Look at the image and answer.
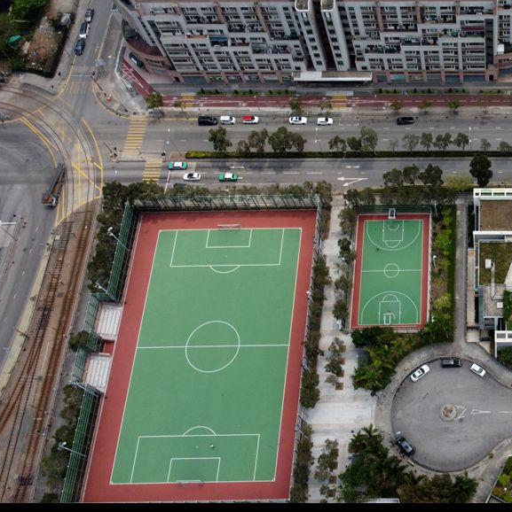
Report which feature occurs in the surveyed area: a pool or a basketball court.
basketball court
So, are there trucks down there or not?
Yes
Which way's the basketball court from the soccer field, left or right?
on its right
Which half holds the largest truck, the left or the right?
left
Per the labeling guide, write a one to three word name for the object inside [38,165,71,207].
truck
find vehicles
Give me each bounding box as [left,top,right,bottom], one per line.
[410,365,430,382]
[441,358,461,368]
[290,116,307,125]
[168,162,187,170]
[218,115,238,125]
[169,183,188,191]
[316,117,333,125]
[243,116,259,124]
[219,173,238,181]
[78,24,91,38]
[198,116,217,125]
[469,362,487,377]
[38,165,71,207]
[74,41,87,54]
[396,434,413,455]
[183,172,203,181]
[397,116,414,125]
